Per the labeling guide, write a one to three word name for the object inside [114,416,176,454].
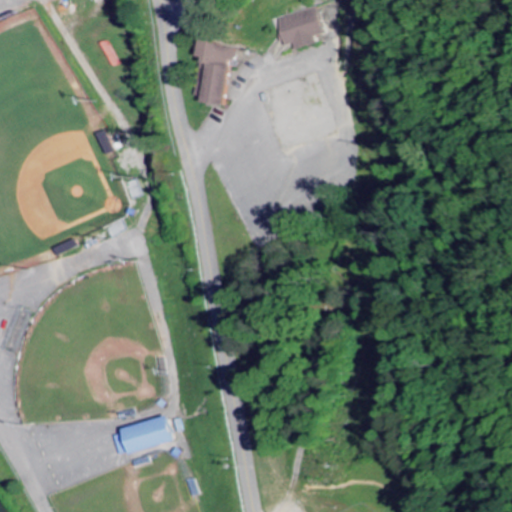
building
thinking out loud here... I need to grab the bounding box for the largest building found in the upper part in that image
[192,40,238,104]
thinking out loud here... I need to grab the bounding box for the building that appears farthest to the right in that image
[278,8,324,48]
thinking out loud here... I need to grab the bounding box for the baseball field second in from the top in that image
[16,260,165,423]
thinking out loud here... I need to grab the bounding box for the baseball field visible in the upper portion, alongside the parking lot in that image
[0,8,127,275]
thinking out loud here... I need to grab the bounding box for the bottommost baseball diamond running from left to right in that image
[48,458,200,512]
